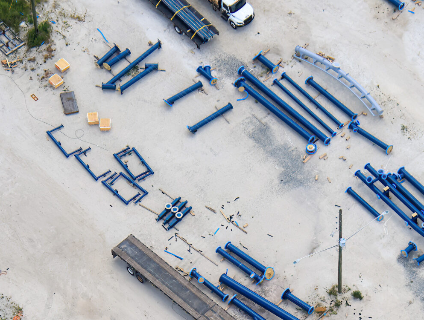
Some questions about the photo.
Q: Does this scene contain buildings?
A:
No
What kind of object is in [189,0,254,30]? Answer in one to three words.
truck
